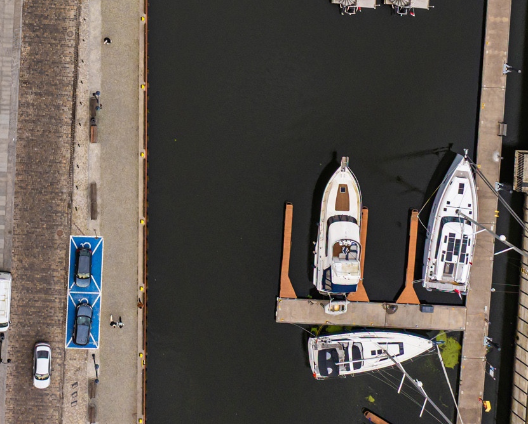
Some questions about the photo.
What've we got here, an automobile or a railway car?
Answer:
automobile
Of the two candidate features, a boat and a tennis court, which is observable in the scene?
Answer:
boat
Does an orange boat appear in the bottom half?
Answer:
No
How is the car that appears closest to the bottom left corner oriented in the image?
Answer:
from top to bottom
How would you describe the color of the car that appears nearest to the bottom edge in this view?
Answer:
white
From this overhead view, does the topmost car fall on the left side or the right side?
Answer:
left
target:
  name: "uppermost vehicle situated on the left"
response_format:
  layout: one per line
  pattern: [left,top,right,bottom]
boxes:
[72,248,95,293]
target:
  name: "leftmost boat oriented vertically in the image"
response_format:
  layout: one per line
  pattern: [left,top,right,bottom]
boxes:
[312,157,362,306]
